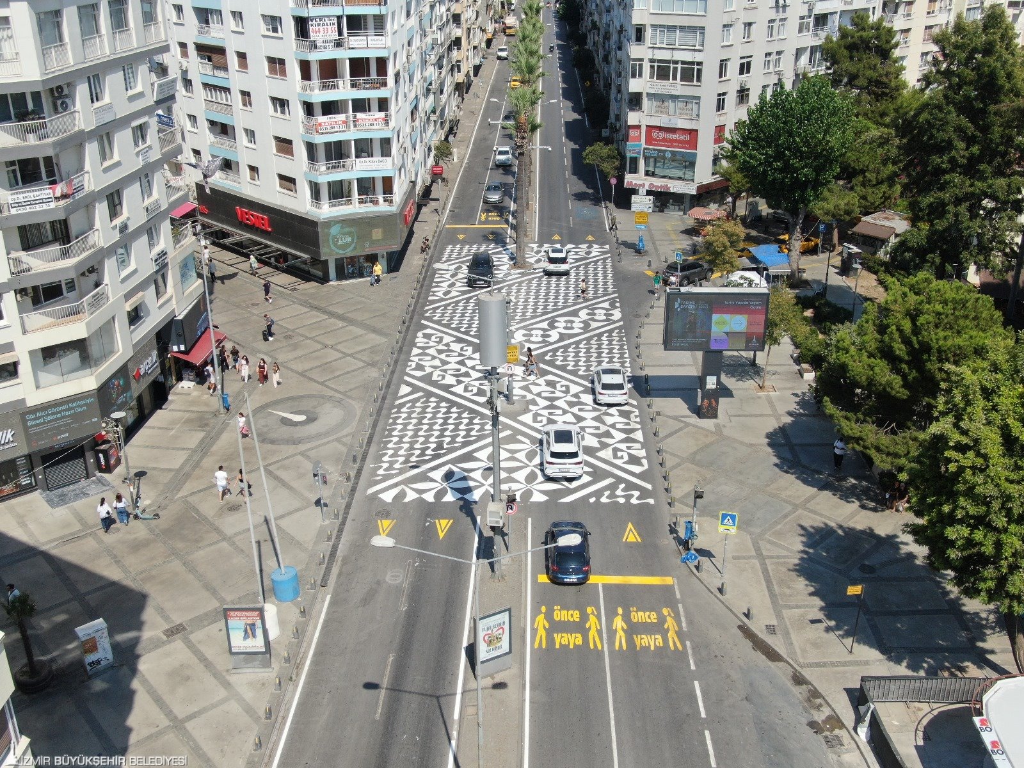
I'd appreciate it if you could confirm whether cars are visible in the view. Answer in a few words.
Yes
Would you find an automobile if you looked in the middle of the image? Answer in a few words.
Yes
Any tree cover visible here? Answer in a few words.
Yes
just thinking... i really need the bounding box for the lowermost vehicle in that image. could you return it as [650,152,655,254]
[541,512,593,580]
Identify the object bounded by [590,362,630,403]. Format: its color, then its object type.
white car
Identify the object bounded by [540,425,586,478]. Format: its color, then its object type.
white car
